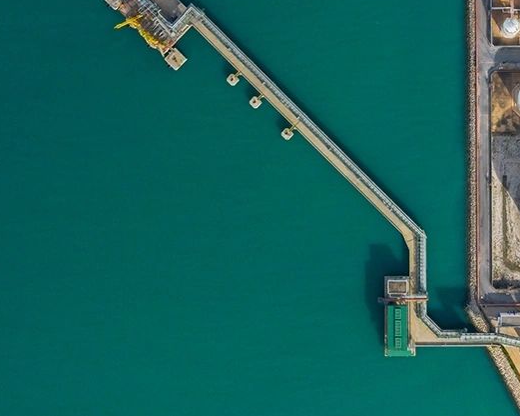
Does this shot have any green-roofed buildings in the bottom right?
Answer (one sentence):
Yes, you'll find a green-roofed building in the bottom right.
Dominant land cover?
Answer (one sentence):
The bulk of the photo consists of water.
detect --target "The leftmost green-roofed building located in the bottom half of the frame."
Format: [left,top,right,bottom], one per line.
[388,303,409,355]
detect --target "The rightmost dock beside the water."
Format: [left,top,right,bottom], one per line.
[192,12,520,355]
